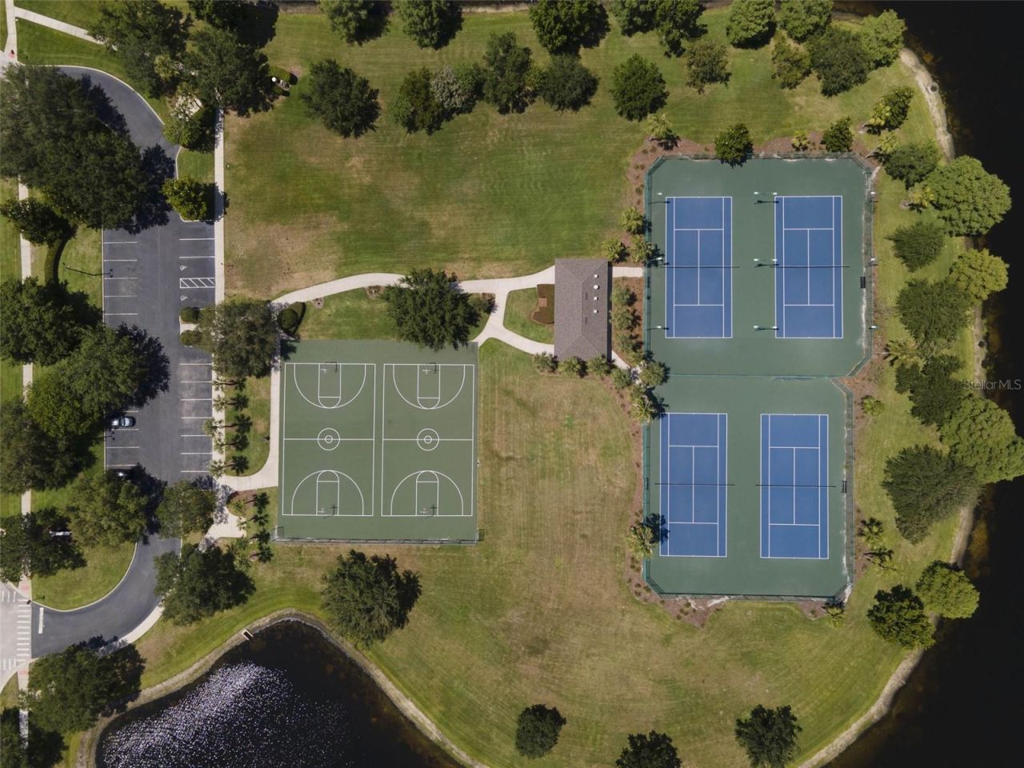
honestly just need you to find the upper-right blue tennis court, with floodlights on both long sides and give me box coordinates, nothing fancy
[770,196,850,338]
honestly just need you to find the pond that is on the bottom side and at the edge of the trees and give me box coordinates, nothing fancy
[97,619,467,768]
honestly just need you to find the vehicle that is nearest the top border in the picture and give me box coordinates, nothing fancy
[109,416,136,428]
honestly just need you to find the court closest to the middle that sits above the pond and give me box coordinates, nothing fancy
[381,364,474,517]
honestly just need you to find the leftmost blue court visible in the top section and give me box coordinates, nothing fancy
[661,196,739,338]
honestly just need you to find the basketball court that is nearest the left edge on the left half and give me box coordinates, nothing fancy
[282,363,376,516]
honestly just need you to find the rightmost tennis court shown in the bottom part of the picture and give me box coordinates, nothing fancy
[756,414,837,559]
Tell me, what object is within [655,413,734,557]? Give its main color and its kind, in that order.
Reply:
blue tennis court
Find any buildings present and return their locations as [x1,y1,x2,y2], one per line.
[555,259,608,359]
